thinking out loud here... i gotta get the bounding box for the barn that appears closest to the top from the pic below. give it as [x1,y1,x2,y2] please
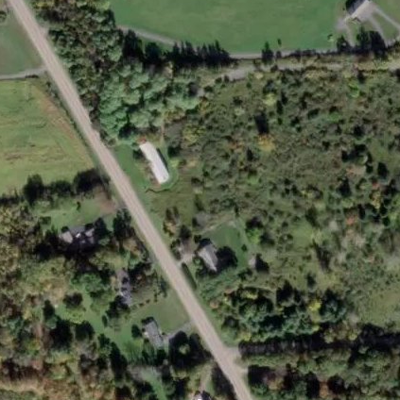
[345,0,372,19]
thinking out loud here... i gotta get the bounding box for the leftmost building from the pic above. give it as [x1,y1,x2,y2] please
[57,226,95,248]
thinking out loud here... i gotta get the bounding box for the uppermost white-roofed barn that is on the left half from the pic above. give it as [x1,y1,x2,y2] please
[140,141,170,184]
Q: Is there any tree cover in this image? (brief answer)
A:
Yes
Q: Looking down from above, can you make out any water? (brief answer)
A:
No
